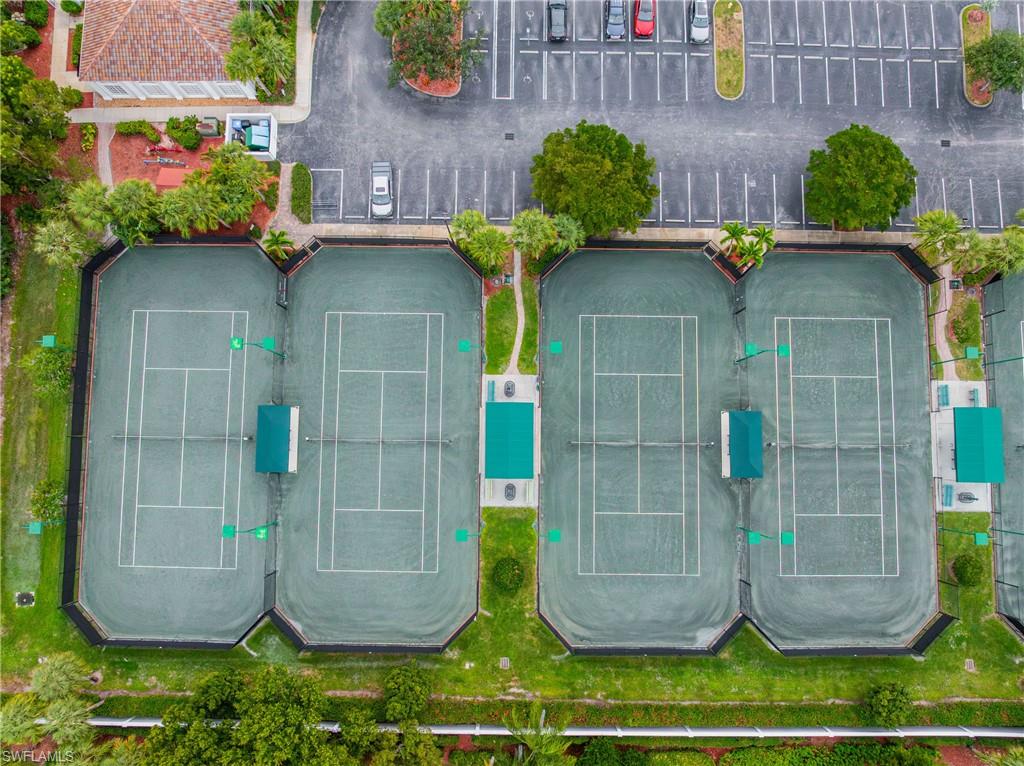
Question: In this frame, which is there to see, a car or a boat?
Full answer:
Visible in the photo is a car.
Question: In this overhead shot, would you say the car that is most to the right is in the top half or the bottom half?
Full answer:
It is in the top half that the car that is most to the right appears.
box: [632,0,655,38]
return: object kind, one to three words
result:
car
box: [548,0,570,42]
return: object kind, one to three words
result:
car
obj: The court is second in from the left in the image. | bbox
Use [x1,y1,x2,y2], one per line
[275,245,484,645]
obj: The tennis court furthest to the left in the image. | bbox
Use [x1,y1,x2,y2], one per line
[72,243,287,643]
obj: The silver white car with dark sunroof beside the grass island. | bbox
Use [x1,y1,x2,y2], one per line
[688,0,712,44]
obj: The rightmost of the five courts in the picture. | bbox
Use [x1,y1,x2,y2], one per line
[980,253,1024,646]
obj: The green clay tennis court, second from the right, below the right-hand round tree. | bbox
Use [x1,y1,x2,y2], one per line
[736,250,941,651]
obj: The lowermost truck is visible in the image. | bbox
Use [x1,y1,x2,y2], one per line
[369,162,394,220]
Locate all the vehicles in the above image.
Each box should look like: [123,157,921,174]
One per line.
[632,0,655,38]
[548,0,570,42]
[604,0,626,39]
[688,0,712,44]
[369,162,394,220]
